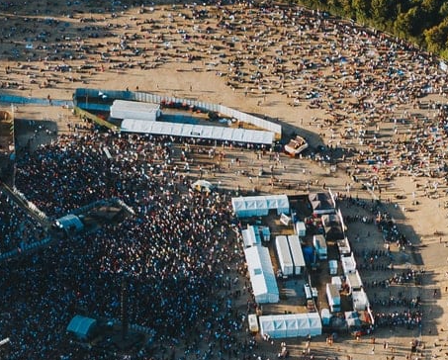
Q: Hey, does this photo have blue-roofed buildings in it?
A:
Yes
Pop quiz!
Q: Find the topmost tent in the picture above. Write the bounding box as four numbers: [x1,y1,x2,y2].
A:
[122,120,273,156]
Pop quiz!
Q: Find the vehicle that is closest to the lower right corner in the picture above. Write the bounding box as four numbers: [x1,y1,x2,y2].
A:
[326,282,341,316]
